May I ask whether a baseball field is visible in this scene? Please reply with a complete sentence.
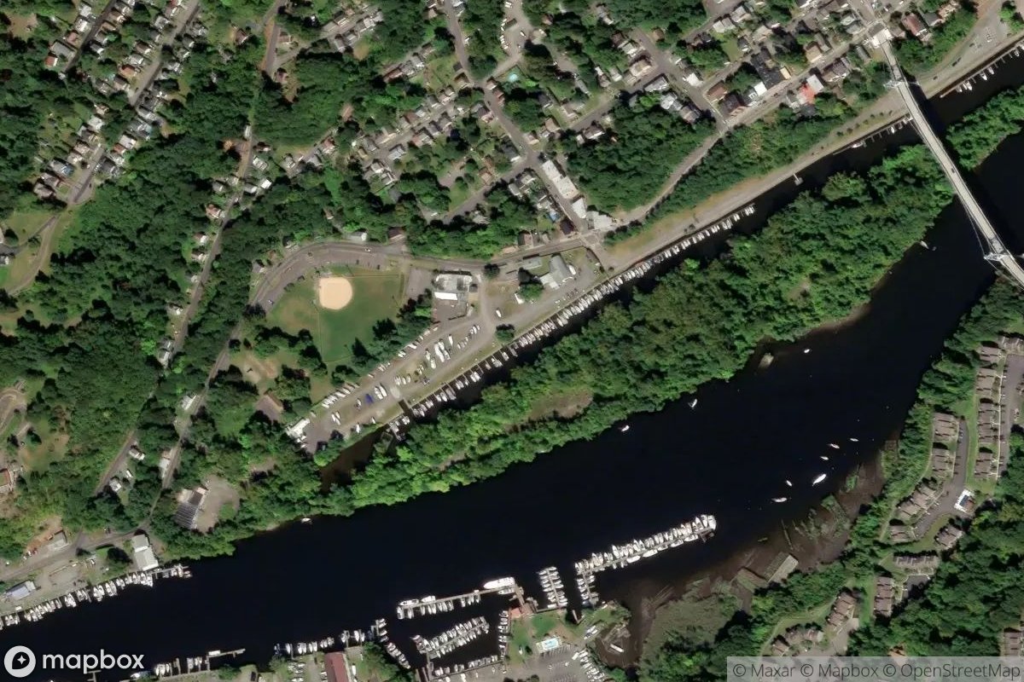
Yes, the image includes a baseball field.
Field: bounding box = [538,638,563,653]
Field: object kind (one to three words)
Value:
swimming pool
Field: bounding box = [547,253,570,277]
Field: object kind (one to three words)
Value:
shed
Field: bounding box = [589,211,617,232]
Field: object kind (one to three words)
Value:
building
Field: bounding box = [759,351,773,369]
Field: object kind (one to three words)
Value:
ship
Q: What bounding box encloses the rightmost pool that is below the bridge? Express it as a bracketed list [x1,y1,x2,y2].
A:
[952,487,975,513]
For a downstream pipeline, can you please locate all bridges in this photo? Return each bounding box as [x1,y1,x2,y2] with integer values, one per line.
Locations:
[868,21,1024,305]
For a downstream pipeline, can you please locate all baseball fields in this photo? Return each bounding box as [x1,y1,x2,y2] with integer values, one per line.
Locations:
[267,269,404,362]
